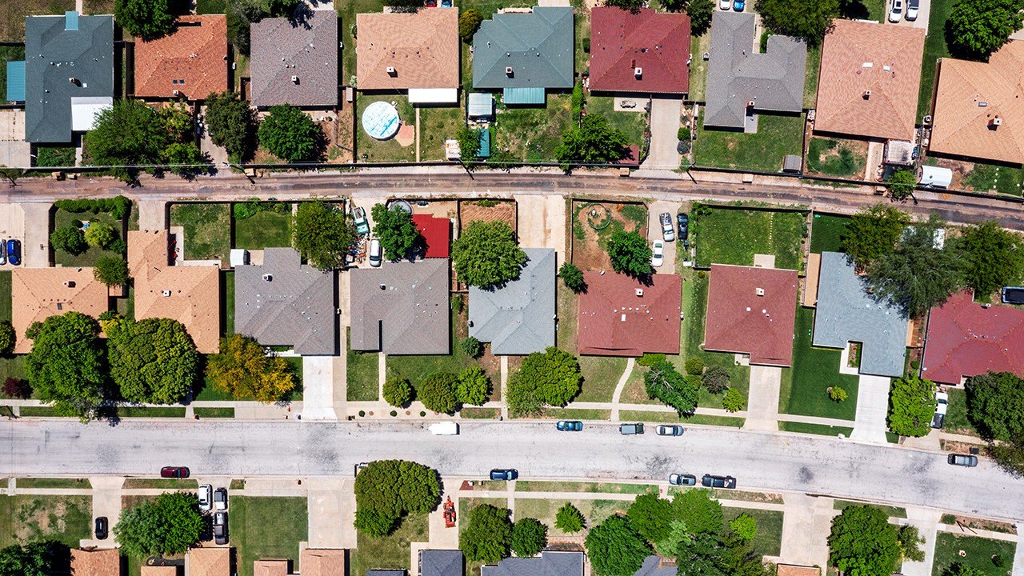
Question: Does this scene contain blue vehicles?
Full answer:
Yes, a blue vehicle can be made out from above.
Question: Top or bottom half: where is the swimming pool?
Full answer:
The swimming pool sits in the top half of the picture.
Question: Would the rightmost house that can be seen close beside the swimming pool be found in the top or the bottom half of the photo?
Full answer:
The rightmost house that can be seen close beside the swimming pool is in the top half of the image.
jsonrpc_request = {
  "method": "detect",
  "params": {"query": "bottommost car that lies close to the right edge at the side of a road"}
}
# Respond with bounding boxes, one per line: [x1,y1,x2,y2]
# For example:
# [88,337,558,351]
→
[945,453,978,466]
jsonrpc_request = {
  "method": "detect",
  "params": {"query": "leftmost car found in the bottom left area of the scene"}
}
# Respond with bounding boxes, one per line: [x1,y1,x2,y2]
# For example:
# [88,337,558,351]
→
[93,515,110,540]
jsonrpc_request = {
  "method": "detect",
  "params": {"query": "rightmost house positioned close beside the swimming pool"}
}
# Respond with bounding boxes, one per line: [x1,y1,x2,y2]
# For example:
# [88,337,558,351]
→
[356,7,459,106]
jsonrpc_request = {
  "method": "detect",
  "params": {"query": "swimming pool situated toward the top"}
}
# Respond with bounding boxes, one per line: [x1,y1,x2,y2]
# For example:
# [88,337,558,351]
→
[361,101,402,140]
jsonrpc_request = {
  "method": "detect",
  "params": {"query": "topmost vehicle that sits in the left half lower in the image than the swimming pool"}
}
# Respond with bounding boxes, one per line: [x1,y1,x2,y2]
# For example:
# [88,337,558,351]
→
[352,205,369,235]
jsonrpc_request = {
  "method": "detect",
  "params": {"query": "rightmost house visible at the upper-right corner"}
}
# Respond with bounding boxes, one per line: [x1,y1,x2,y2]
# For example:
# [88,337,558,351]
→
[925,39,1024,165]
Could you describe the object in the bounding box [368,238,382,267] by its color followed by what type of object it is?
white vehicle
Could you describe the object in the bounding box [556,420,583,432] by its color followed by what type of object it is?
blue vehicle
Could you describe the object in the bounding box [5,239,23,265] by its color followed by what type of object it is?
blue car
